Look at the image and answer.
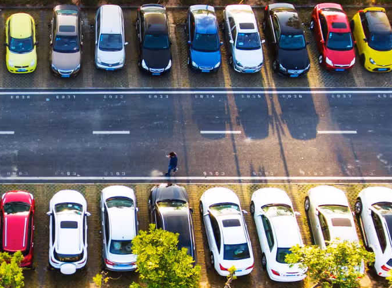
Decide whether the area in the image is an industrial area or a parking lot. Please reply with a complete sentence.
It's a parking lot.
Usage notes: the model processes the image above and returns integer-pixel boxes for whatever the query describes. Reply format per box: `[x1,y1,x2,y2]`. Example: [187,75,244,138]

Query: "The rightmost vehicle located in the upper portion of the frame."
[349,11,392,74]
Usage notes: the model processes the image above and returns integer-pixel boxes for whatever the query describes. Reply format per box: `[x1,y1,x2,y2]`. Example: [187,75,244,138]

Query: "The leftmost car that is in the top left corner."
[4,17,38,75]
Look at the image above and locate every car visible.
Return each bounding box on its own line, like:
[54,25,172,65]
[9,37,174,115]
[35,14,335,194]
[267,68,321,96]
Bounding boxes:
[47,5,84,78]
[355,186,392,279]
[205,187,257,279]
[262,4,310,79]
[222,4,266,75]
[153,186,201,278]
[252,188,308,284]
[44,189,89,273]
[4,17,38,75]
[308,4,357,73]
[134,10,173,76]
[0,189,39,272]
[181,5,223,74]
[349,11,392,74]
[305,186,366,282]
[95,186,139,273]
